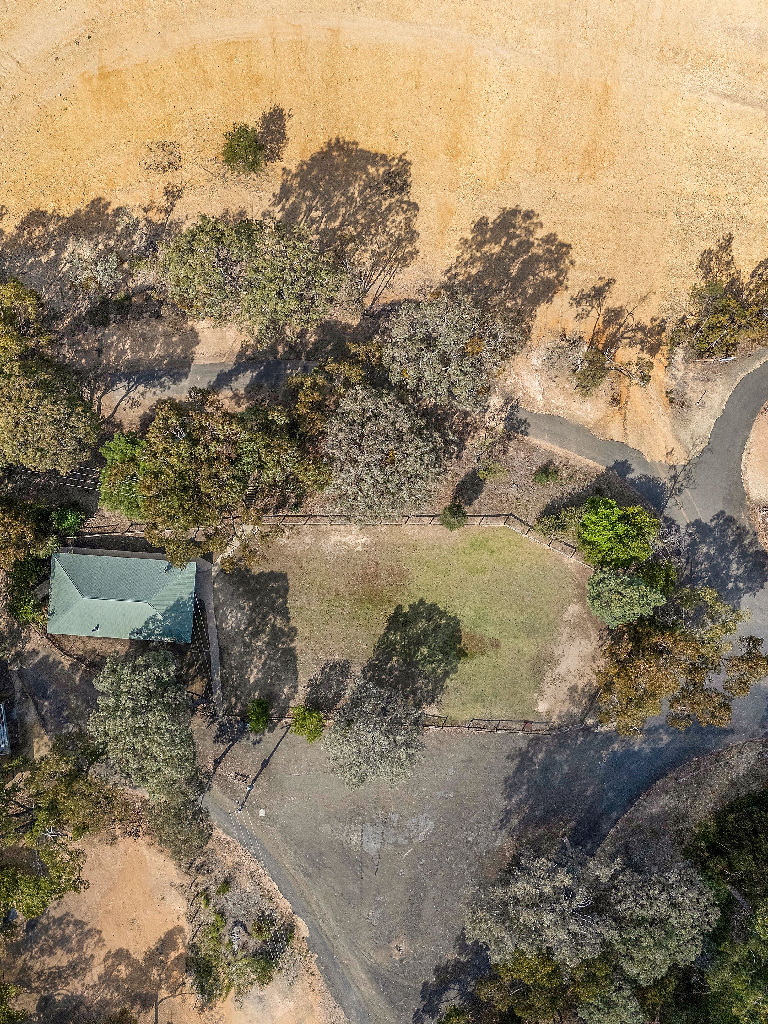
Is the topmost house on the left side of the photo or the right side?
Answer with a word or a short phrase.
left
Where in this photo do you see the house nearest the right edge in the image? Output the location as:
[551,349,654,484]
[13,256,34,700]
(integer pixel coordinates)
[46,552,198,643]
